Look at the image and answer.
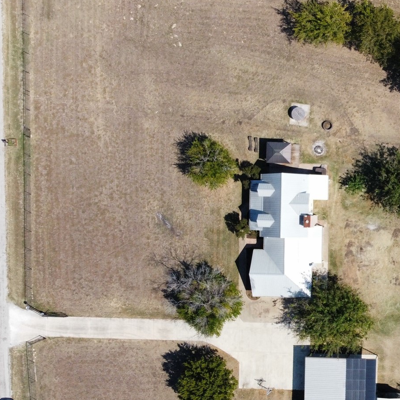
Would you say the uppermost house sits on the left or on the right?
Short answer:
right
